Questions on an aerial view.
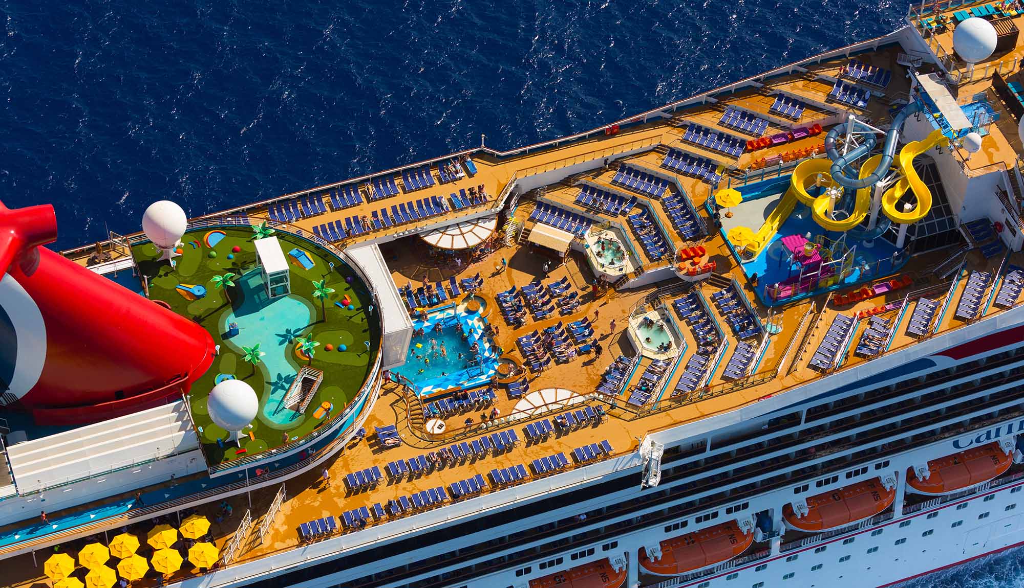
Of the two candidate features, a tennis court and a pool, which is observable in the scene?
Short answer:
pool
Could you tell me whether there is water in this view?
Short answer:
Yes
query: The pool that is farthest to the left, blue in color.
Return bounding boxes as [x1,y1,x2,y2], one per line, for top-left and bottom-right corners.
[383,304,500,403]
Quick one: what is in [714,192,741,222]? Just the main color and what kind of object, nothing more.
yellow umbrella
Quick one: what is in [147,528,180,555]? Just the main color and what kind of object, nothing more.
yellow umbrella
